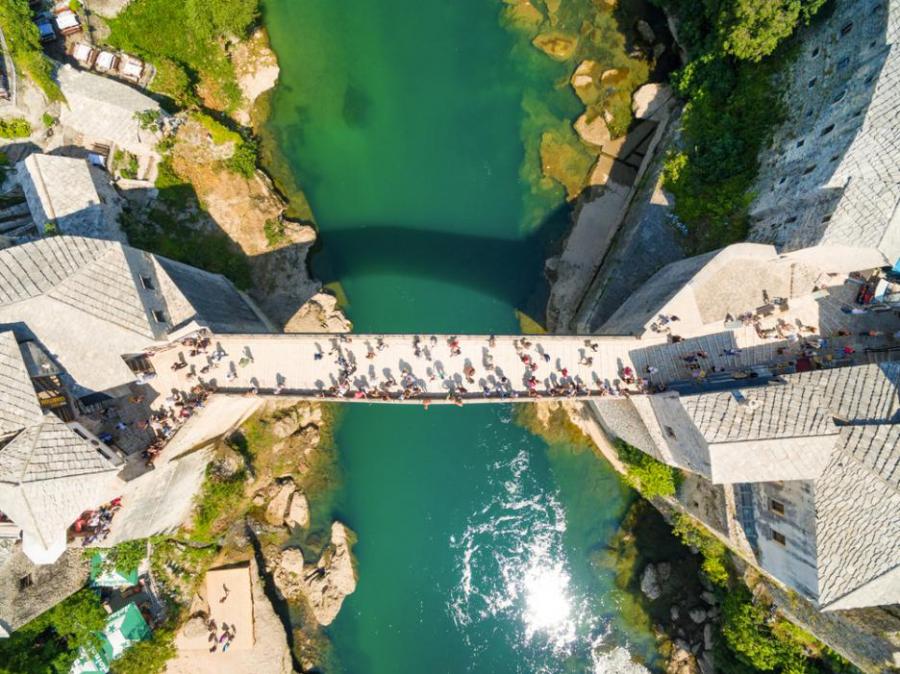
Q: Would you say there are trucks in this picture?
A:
No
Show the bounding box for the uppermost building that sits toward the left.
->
[57,66,175,149]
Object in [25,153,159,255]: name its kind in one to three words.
house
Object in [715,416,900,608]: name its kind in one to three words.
house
